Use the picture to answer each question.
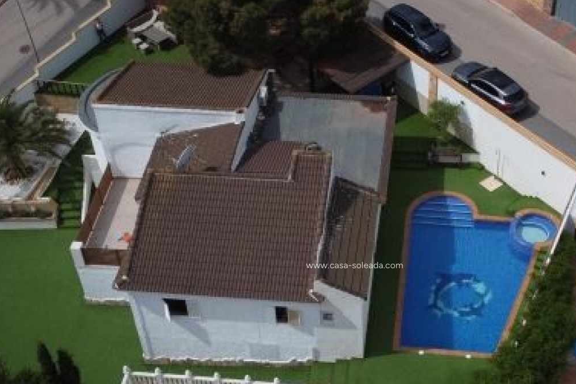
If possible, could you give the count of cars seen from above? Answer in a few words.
2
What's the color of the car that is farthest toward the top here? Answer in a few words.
black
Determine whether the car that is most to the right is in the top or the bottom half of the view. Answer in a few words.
top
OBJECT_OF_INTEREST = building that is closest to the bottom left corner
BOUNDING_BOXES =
[66,63,395,356]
